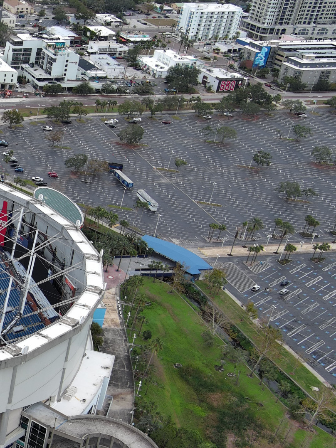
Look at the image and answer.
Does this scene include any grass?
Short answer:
Yes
